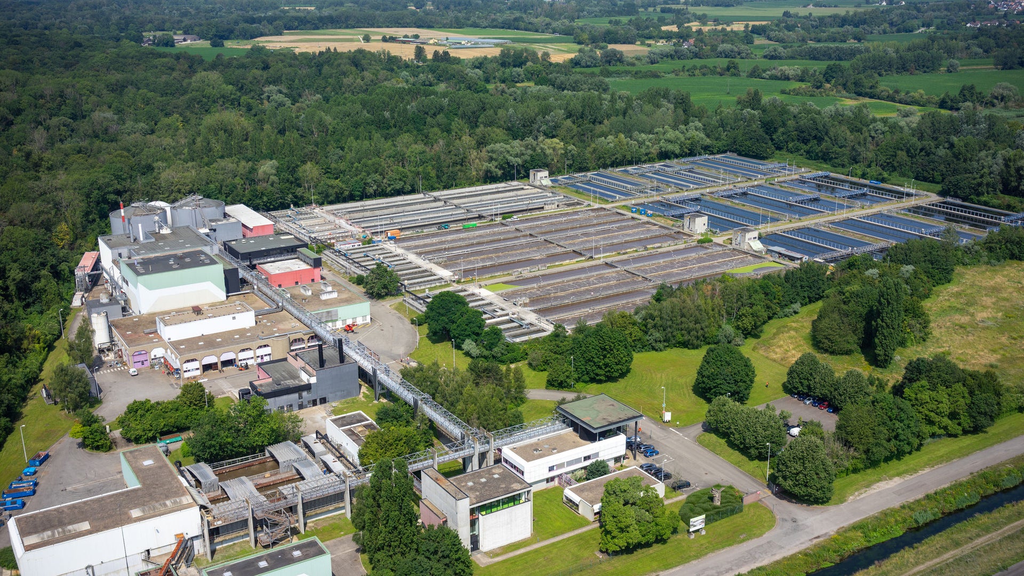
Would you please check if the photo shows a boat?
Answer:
No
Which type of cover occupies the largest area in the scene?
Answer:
trees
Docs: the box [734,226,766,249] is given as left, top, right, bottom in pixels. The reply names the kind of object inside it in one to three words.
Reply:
building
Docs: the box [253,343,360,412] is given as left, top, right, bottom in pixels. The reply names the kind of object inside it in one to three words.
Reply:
building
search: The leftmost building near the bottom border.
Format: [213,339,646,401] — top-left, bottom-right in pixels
[8,443,205,576]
